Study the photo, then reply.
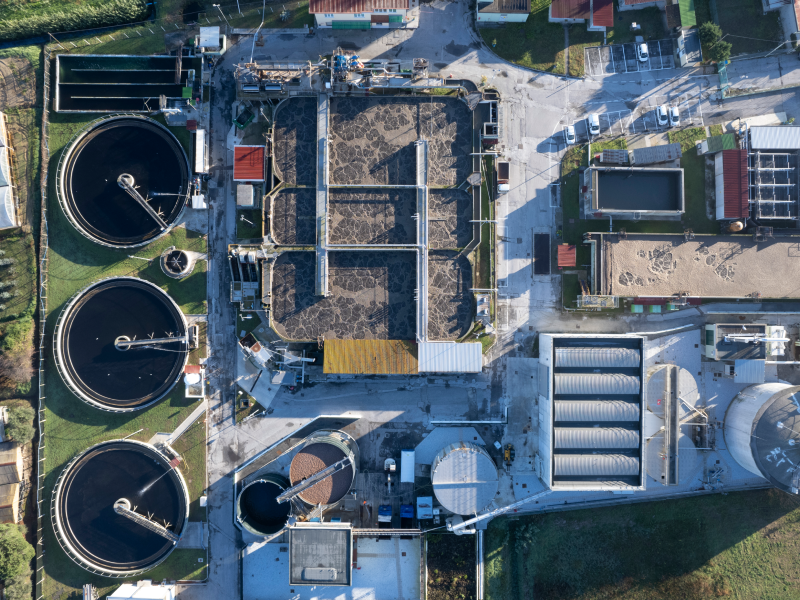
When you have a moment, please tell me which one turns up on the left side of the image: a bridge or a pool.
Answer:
bridge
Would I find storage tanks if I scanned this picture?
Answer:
Yes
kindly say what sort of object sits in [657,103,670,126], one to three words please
vehicle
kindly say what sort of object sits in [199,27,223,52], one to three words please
shed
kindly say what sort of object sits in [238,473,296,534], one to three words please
storage tank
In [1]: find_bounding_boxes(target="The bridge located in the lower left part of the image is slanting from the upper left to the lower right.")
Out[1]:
[114,504,180,548]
